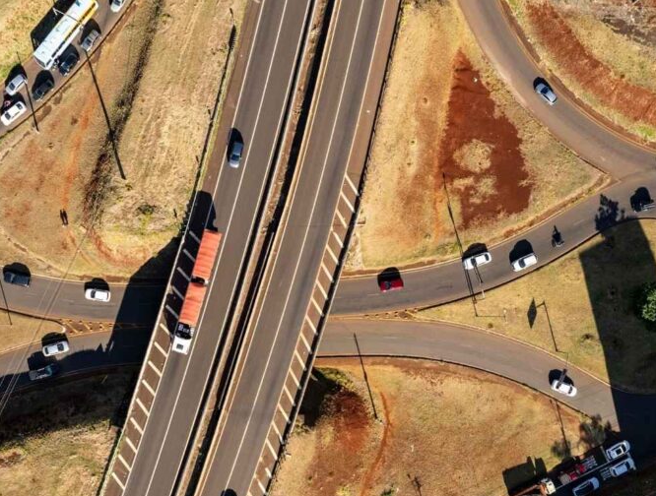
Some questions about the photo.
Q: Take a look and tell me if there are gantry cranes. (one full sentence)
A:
No, there isn't any gantry crane down there.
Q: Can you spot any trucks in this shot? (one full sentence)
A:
Yes, the picture does show a truck.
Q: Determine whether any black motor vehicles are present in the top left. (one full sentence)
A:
Yes, looking in the top left, one can make out a black motor vehicle.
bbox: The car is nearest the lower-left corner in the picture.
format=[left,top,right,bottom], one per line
[28,363,56,380]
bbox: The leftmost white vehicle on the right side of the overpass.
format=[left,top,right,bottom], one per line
[463,252,489,269]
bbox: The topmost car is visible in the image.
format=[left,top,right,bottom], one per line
[108,0,129,16]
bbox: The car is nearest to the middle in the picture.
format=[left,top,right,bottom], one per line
[377,277,405,293]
